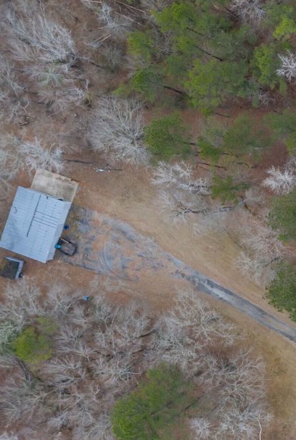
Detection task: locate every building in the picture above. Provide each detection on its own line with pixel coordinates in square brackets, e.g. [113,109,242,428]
[0,187,78,263]
[0,257,26,279]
